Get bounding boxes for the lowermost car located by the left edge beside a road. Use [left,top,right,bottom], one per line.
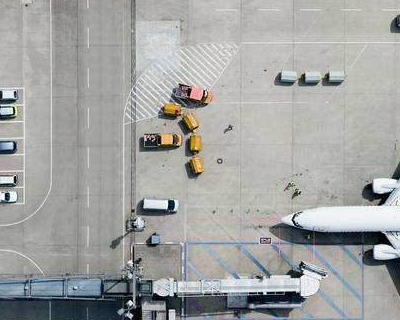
[0,190,18,202]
